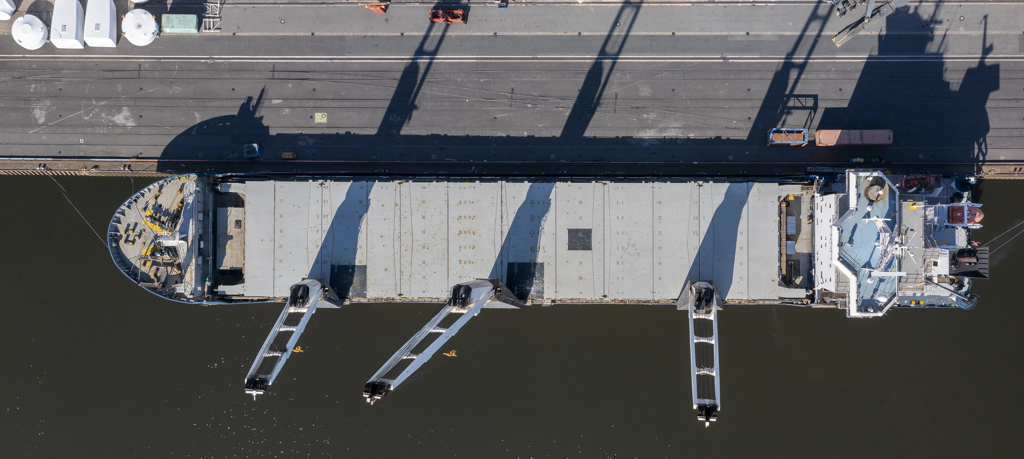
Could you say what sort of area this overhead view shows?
port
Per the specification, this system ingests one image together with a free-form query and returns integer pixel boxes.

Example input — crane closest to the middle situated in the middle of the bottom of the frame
[363,279,527,406]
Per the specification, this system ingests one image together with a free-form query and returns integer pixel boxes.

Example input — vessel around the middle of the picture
[108,169,990,318]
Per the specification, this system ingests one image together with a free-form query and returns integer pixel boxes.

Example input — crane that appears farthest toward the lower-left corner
[244,279,342,398]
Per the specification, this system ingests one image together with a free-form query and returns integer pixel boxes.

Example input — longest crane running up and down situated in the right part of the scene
[677,281,723,428]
